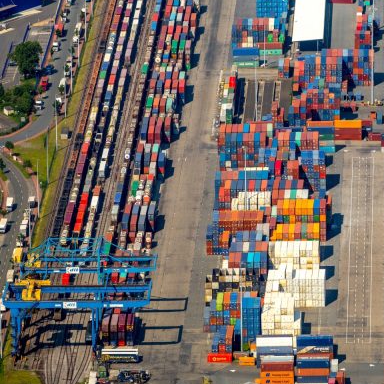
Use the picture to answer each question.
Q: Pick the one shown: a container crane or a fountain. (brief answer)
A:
container crane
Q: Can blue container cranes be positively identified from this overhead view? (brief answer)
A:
Yes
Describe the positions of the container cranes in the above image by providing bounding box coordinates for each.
[20,234,161,331]
[2,274,155,366]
